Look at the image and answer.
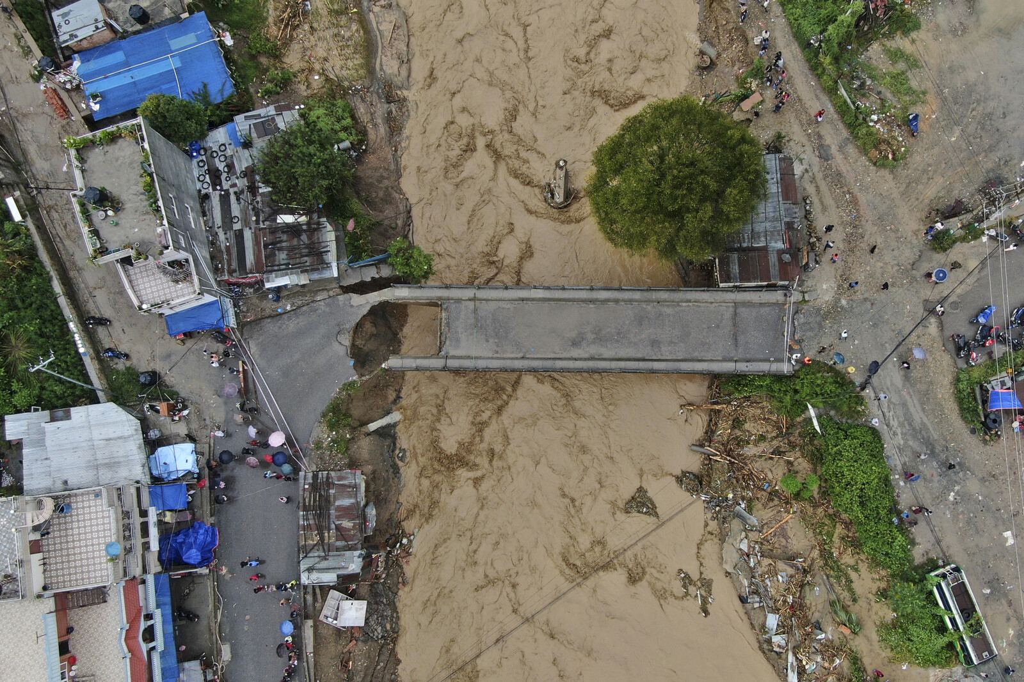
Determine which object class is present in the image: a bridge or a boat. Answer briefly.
bridge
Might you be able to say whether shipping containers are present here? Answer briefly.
No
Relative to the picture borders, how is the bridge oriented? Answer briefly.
from side to side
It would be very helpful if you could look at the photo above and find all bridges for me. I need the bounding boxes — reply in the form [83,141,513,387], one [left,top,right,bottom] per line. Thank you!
[354,285,802,378]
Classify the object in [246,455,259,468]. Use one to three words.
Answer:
umbrella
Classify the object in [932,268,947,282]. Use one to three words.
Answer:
umbrella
